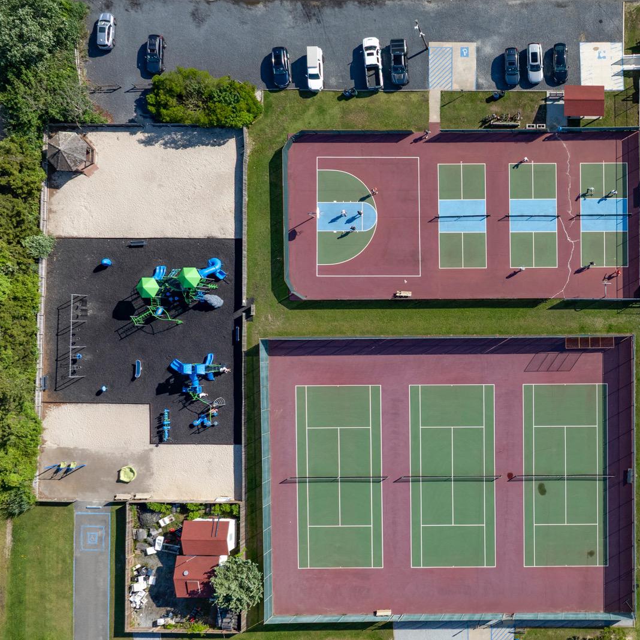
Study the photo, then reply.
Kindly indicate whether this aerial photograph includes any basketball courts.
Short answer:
Yes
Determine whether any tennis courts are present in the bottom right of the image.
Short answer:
Yes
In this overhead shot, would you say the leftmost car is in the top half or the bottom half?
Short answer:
top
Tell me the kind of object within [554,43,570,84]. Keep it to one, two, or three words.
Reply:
car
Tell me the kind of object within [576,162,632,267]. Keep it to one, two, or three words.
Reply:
sports court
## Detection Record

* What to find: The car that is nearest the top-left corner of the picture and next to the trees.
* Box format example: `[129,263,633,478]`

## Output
[96,12,117,50]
